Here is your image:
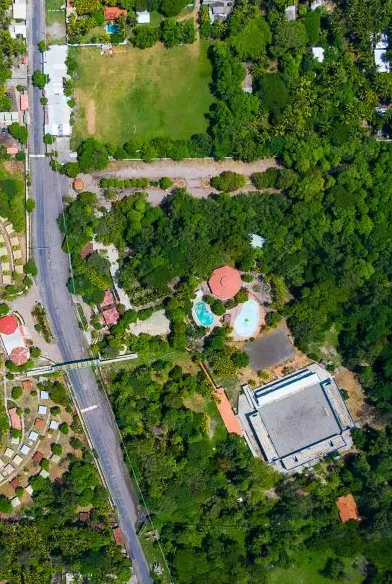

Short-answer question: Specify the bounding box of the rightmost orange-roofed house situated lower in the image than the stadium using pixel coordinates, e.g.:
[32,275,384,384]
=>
[335,493,360,523]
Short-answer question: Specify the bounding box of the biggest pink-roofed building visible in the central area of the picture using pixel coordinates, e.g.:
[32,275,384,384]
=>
[208,265,242,299]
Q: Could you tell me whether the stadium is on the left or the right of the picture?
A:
right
